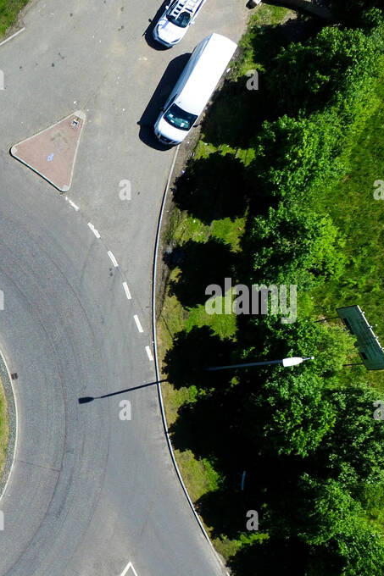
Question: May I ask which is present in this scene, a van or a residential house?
van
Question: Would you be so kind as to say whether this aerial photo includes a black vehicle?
No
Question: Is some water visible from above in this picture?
No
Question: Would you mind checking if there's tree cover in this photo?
Yes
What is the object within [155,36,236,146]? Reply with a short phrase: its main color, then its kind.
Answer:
white van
